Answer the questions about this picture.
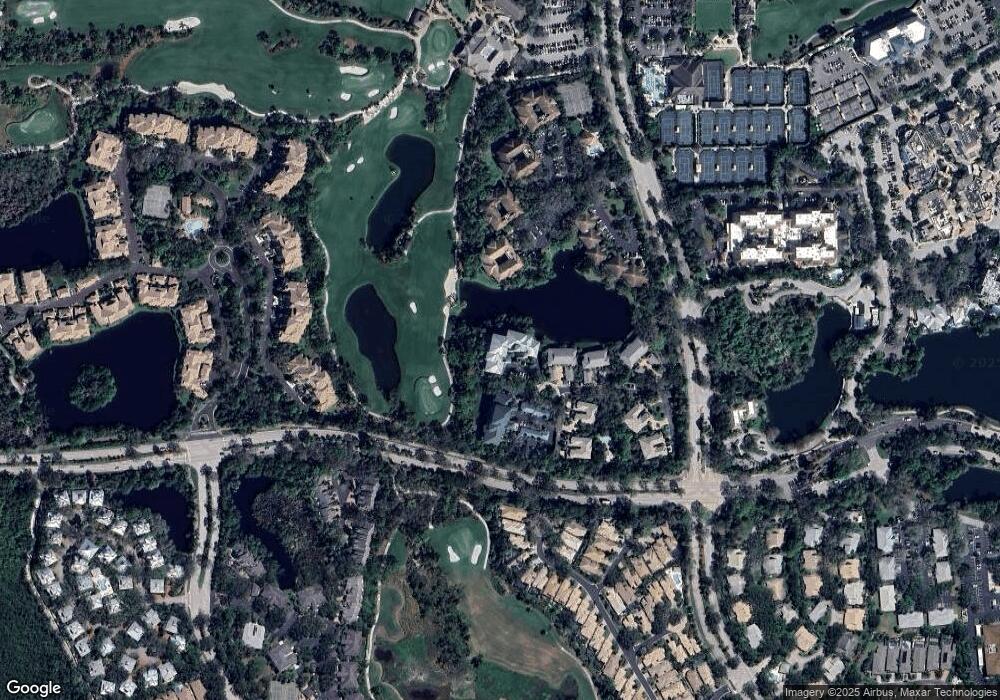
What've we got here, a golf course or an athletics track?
golf course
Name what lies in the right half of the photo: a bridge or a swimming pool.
swimming pool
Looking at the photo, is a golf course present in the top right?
Yes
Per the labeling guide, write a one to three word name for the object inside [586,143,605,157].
swimming pool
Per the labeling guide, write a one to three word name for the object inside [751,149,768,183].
tennis court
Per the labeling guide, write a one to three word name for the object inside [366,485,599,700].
golf course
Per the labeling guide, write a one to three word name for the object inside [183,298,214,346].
house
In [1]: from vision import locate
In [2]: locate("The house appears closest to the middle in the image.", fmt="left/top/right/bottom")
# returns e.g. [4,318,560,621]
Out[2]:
[484,328,543,376]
